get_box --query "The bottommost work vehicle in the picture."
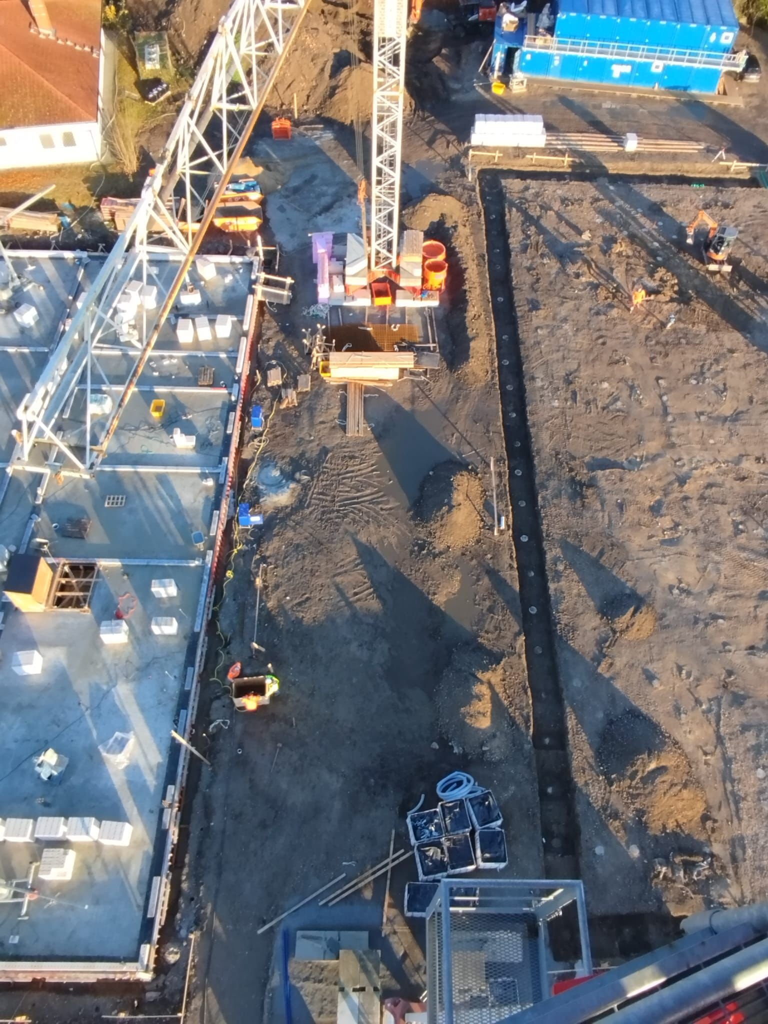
[681,222,738,279]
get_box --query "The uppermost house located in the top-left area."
[0,7,100,170]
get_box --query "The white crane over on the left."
[7,0,430,507]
